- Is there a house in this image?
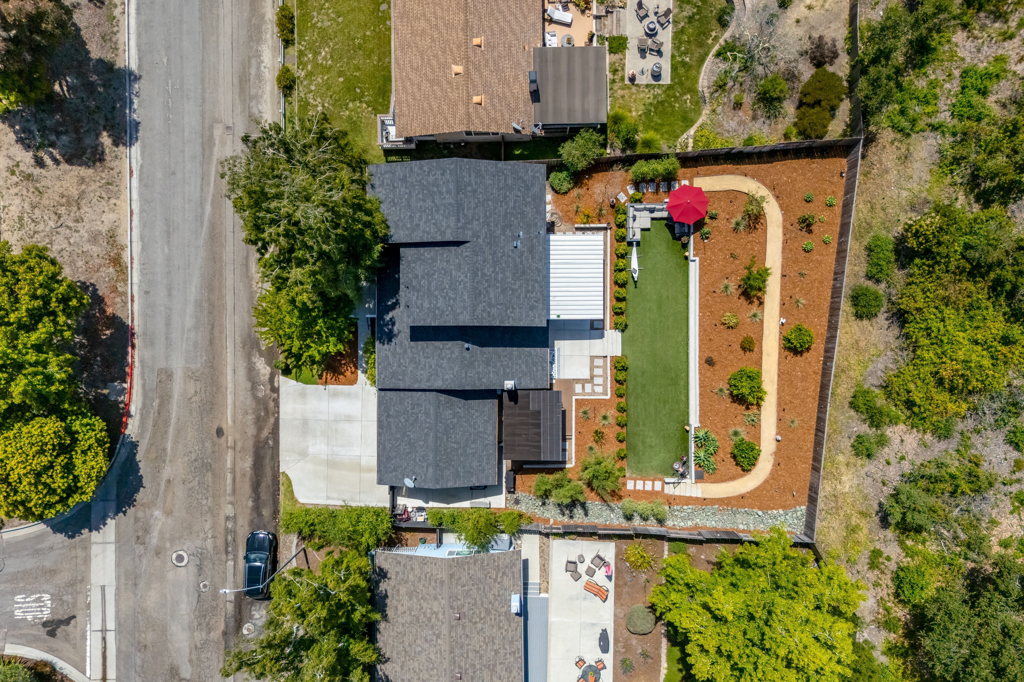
Yes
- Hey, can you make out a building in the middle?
Yes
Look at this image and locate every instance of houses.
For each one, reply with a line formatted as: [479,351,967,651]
[373,539,523,682]
[366,157,551,487]
[375,0,607,149]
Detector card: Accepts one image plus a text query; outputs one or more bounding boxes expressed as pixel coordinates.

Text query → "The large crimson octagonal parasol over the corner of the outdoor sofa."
[665,181,708,224]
